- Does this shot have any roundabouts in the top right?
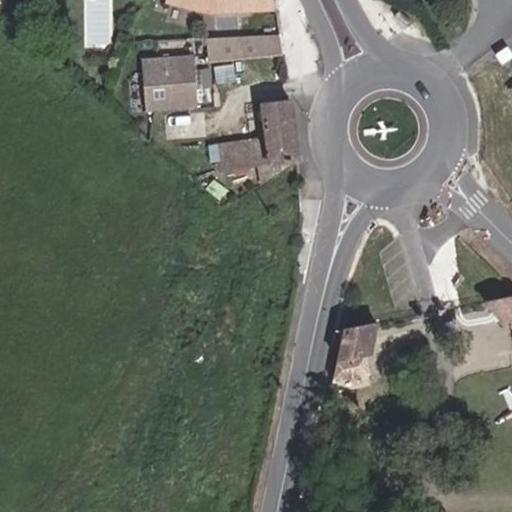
Yes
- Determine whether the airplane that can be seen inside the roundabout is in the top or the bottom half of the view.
top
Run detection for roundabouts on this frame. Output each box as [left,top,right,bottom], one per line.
[311,46,478,212]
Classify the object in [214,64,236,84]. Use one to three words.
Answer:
shed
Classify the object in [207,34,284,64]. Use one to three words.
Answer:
building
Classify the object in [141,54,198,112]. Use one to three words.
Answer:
house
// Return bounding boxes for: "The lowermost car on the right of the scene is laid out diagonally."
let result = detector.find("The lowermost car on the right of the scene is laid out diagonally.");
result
[415,79,432,100]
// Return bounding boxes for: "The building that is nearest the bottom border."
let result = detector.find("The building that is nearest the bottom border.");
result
[332,323,380,390]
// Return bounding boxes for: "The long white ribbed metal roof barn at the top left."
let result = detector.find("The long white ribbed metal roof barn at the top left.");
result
[82,0,114,48]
